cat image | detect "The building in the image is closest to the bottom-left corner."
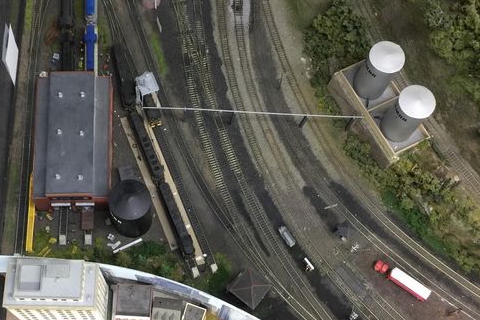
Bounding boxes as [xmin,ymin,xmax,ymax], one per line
[3,257,111,320]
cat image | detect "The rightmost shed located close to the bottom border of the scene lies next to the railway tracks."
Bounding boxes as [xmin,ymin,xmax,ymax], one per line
[229,267,270,308]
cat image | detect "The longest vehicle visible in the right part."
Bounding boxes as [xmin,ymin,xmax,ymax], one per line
[371,260,433,302]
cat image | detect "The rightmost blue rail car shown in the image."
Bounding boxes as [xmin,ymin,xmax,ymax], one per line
[83,25,98,70]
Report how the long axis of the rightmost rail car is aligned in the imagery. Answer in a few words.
diagonally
